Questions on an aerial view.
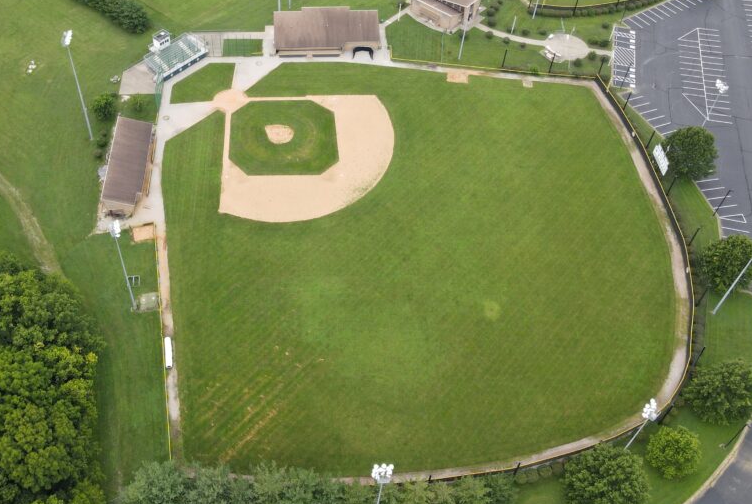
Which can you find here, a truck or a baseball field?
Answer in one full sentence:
Visible in the photo is a baseball field.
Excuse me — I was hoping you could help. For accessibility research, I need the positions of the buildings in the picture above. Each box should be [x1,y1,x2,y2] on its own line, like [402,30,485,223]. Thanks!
[412,0,478,23]
[96,116,154,217]
[274,5,383,61]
